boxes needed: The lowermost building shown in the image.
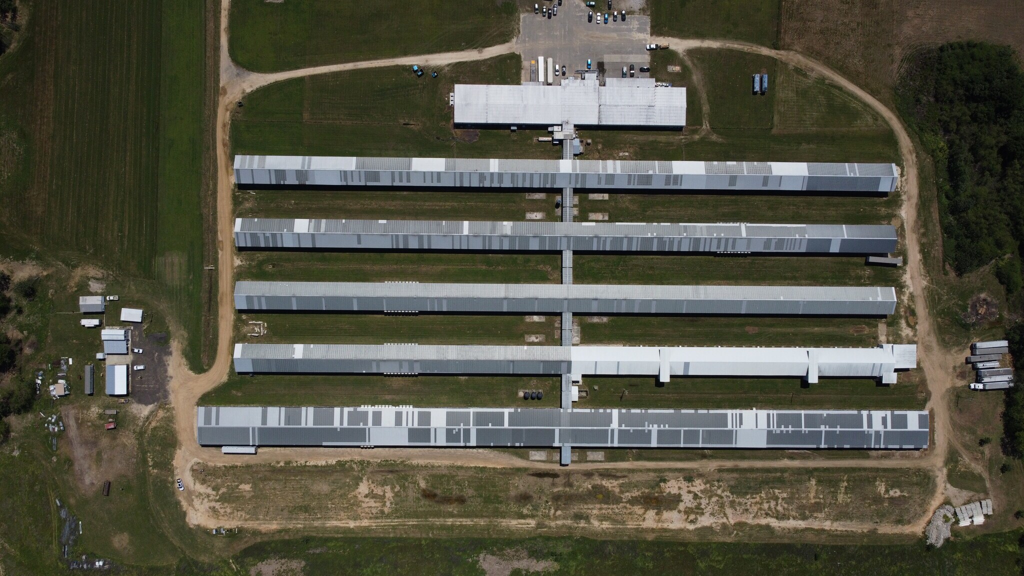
[196,406,931,448]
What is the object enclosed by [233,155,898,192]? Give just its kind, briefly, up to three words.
house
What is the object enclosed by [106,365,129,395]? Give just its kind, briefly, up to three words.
building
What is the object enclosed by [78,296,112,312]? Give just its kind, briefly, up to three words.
house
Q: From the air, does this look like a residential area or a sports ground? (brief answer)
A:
residential area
